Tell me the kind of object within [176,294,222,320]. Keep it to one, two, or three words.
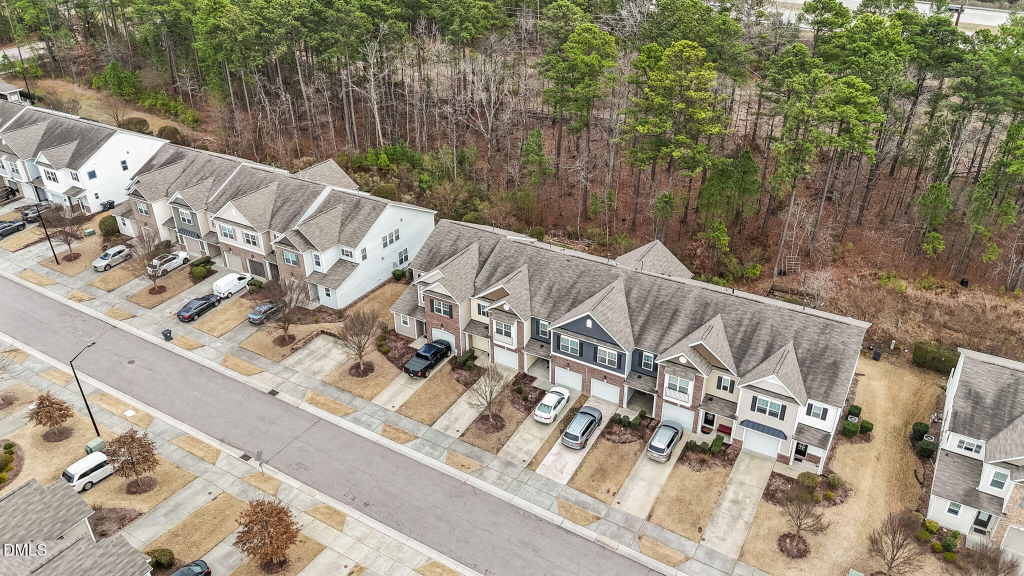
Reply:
car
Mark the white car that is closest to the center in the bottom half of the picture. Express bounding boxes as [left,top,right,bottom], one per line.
[531,385,571,423]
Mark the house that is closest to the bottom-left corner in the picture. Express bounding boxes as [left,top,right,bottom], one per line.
[0,478,152,576]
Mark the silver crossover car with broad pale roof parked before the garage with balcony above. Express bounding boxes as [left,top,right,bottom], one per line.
[647,417,686,462]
